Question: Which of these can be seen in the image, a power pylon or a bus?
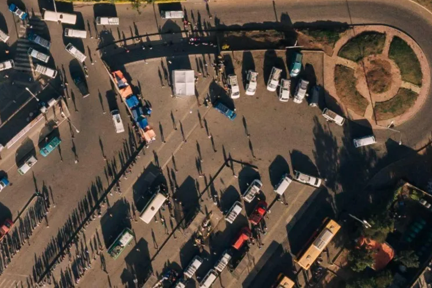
bus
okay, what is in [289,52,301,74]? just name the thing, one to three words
vehicle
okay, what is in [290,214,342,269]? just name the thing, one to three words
bus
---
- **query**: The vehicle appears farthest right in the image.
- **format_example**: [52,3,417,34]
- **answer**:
[351,135,375,148]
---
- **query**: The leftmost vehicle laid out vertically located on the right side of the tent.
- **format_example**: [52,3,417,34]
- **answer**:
[226,74,239,97]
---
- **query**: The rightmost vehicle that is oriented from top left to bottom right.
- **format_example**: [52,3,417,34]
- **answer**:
[320,105,345,125]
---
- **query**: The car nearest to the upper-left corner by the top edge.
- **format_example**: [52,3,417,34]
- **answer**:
[7,2,28,21]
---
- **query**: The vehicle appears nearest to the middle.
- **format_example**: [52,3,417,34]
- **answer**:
[211,102,236,120]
